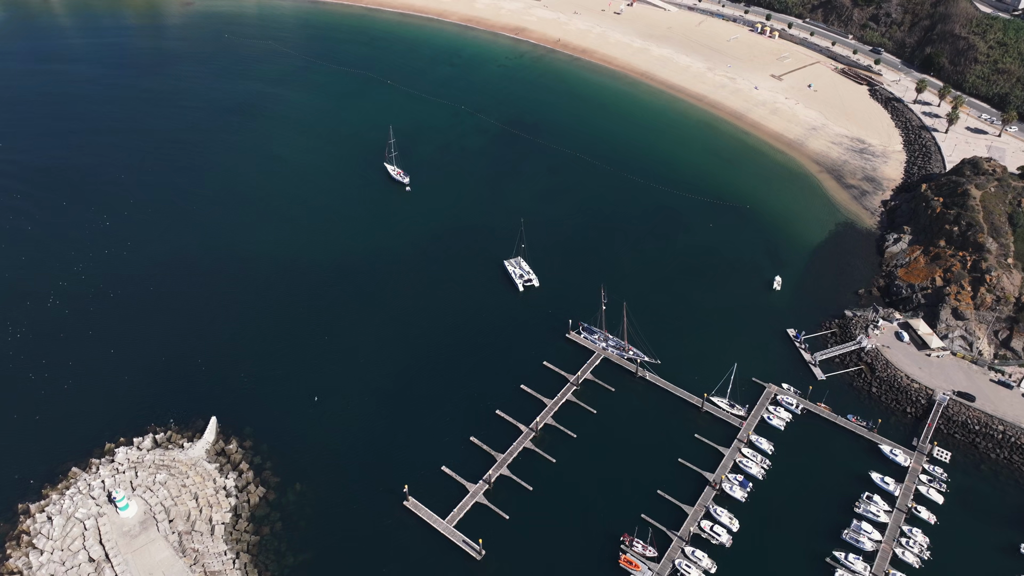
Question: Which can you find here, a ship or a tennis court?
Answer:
ship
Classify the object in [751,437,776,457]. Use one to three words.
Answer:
boat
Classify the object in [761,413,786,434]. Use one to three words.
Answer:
boat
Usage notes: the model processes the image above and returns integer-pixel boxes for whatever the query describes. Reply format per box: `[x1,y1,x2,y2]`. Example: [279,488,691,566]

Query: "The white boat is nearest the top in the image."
[385,130,412,186]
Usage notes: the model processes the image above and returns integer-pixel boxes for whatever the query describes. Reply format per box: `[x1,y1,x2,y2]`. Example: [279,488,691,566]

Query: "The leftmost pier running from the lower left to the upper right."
[443,352,614,526]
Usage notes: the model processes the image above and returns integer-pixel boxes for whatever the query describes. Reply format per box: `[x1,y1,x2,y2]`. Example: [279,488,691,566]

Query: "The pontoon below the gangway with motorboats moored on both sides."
[826,444,953,576]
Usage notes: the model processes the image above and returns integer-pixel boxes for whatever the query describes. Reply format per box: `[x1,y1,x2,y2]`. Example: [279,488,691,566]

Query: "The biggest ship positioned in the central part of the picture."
[578,286,662,361]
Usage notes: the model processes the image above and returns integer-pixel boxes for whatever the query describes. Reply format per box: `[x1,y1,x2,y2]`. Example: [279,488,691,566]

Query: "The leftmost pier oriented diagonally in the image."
[402,496,486,561]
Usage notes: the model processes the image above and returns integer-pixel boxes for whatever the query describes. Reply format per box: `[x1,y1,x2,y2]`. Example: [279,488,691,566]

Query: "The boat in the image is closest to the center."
[503,235,541,293]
